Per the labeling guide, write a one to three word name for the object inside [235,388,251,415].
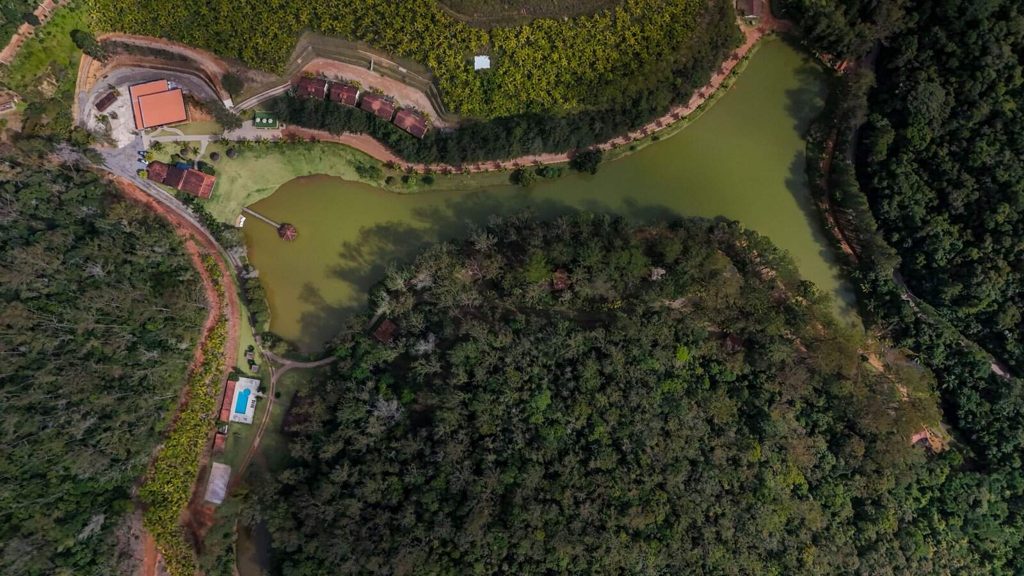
swimming pool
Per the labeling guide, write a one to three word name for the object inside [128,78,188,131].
building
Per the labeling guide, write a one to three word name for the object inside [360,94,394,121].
house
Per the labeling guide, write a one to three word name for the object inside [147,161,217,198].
building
